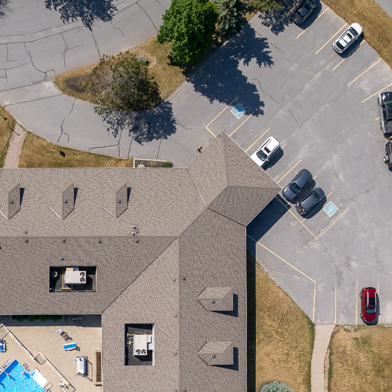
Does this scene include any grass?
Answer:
Yes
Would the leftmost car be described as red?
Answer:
No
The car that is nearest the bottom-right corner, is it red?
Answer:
Yes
